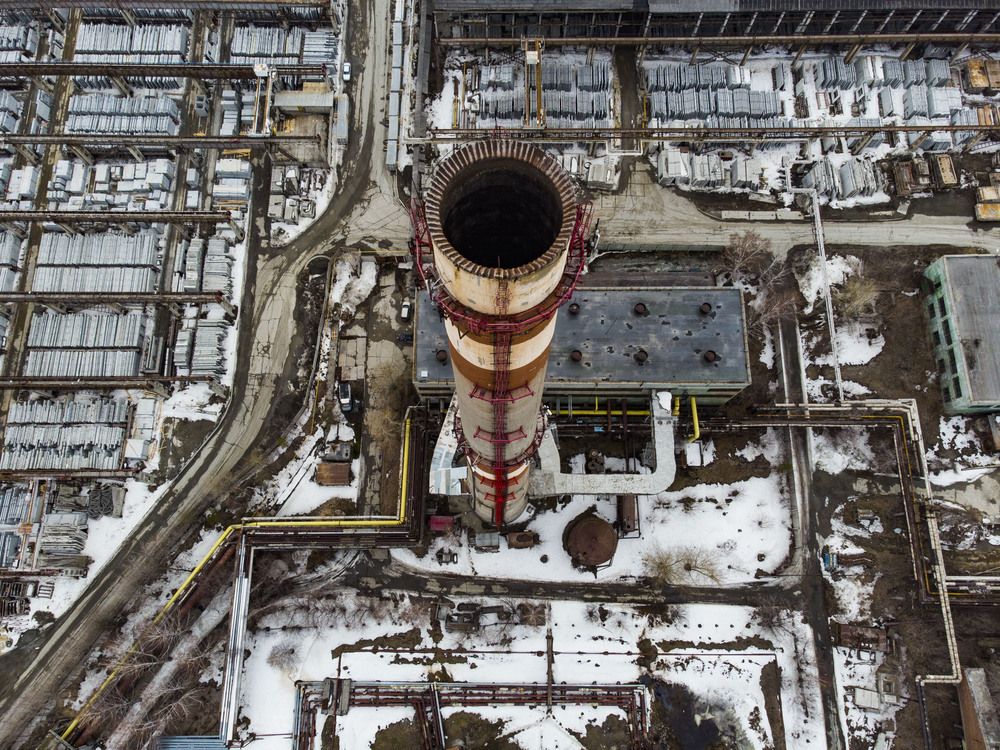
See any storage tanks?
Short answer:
Yes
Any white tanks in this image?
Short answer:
No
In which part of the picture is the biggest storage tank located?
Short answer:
bottom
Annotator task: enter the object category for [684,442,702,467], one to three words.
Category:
building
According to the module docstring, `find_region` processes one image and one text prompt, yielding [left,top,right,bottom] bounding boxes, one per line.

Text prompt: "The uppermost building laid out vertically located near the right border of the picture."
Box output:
[923,256,1000,411]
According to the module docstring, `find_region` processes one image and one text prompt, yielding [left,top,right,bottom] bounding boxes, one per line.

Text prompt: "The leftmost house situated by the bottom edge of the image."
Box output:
[513,717,585,750]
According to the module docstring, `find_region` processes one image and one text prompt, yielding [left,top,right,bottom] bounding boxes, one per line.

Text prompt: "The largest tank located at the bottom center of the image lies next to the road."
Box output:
[562,513,617,580]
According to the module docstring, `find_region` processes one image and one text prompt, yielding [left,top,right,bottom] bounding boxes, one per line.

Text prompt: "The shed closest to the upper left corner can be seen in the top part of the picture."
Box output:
[273,91,336,118]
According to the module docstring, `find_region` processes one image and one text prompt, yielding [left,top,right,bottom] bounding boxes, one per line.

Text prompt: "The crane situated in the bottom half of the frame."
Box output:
[11,470,63,576]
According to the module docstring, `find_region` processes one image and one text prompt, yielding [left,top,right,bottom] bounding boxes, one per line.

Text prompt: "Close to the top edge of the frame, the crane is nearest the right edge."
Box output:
[521,36,546,133]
